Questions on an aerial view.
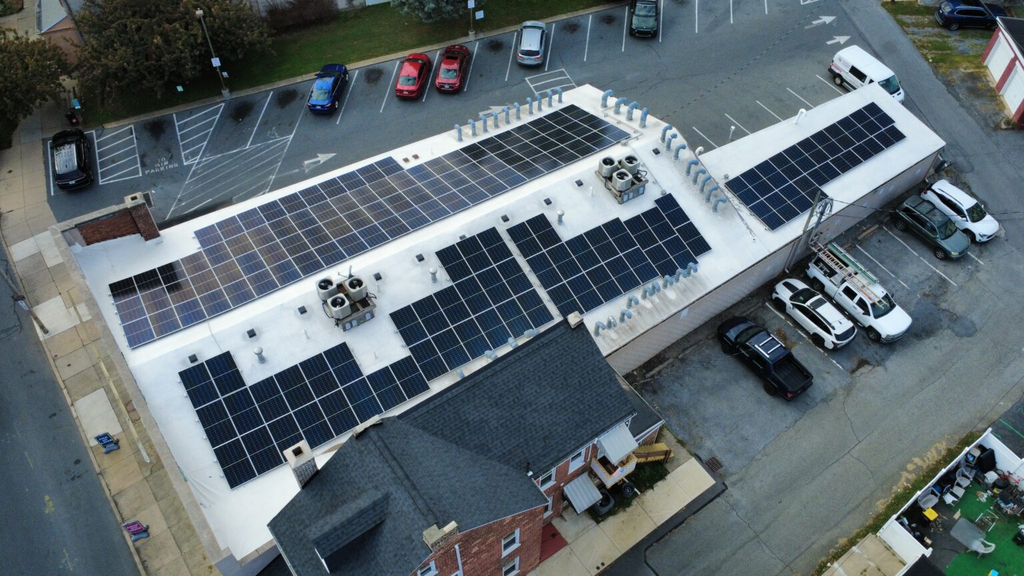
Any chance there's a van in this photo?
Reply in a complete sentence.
Yes, the frame does contain a van.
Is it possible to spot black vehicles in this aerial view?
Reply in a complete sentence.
Yes, this view includes a black vehicle.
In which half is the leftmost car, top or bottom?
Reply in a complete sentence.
You can find the leftmost car in the top half.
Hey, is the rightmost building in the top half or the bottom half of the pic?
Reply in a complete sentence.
It is in the top half that the rightmost building appears.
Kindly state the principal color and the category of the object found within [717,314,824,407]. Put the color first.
black truck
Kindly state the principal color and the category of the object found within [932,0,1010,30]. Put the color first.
black car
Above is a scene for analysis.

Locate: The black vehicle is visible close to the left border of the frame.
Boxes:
[42,129,90,189]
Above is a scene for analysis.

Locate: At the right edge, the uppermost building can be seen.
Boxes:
[975,22,1024,121]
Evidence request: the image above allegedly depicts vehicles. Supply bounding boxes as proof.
[303,64,350,115]
[717,314,824,407]
[889,195,980,265]
[804,241,922,347]
[932,0,1010,30]
[391,49,428,96]
[434,43,470,91]
[517,18,549,63]
[42,129,90,189]
[830,51,924,116]
[773,278,864,354]
[630,0,662,36]
[923,177,1014,245]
